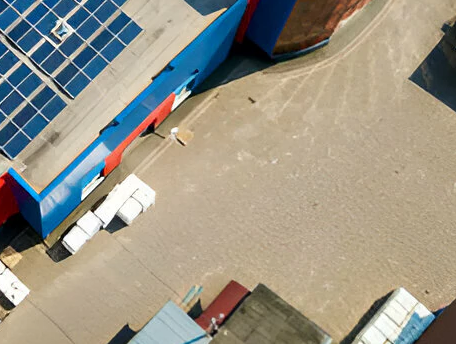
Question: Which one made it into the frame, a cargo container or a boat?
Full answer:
There is a cargo container in the scene.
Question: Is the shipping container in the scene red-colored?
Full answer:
Yes, the shipping container is indeed red.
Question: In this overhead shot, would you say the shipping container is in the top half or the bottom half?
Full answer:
You can find the shipping container in the bottom half.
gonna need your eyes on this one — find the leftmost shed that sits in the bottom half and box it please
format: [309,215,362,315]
[129,300,211,344]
